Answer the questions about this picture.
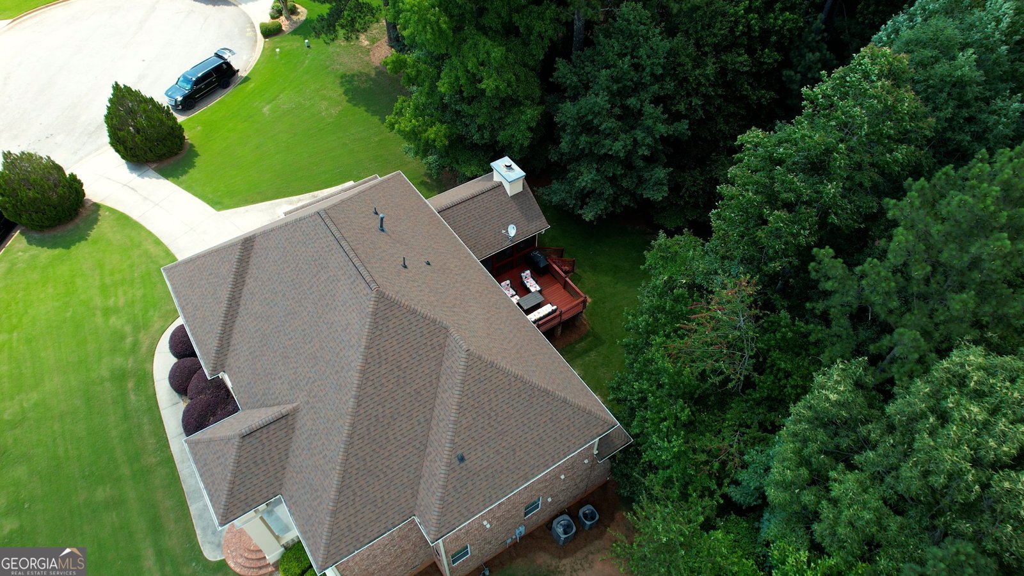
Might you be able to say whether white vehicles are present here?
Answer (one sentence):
No, there appears to be no white vehicle in this shot.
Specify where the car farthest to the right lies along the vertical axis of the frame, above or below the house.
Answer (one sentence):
Looking at the photo, you'll find the car farthest to the right above the house.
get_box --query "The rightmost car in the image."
[161,48,239,110]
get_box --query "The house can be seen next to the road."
[161,157,633,576]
